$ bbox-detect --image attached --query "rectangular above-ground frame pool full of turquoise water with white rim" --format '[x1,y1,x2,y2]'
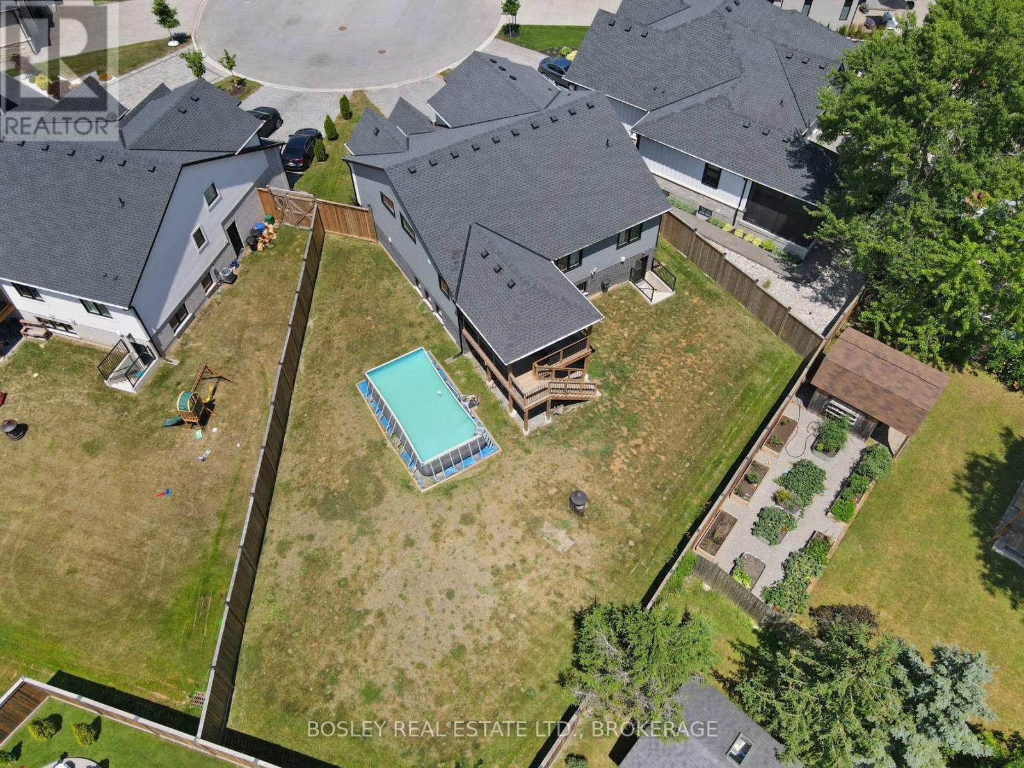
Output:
[363,345,488,480]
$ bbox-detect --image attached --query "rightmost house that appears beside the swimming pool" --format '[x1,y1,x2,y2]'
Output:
[341,50,677,373]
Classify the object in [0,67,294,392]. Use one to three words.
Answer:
house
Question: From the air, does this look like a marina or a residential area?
residential area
